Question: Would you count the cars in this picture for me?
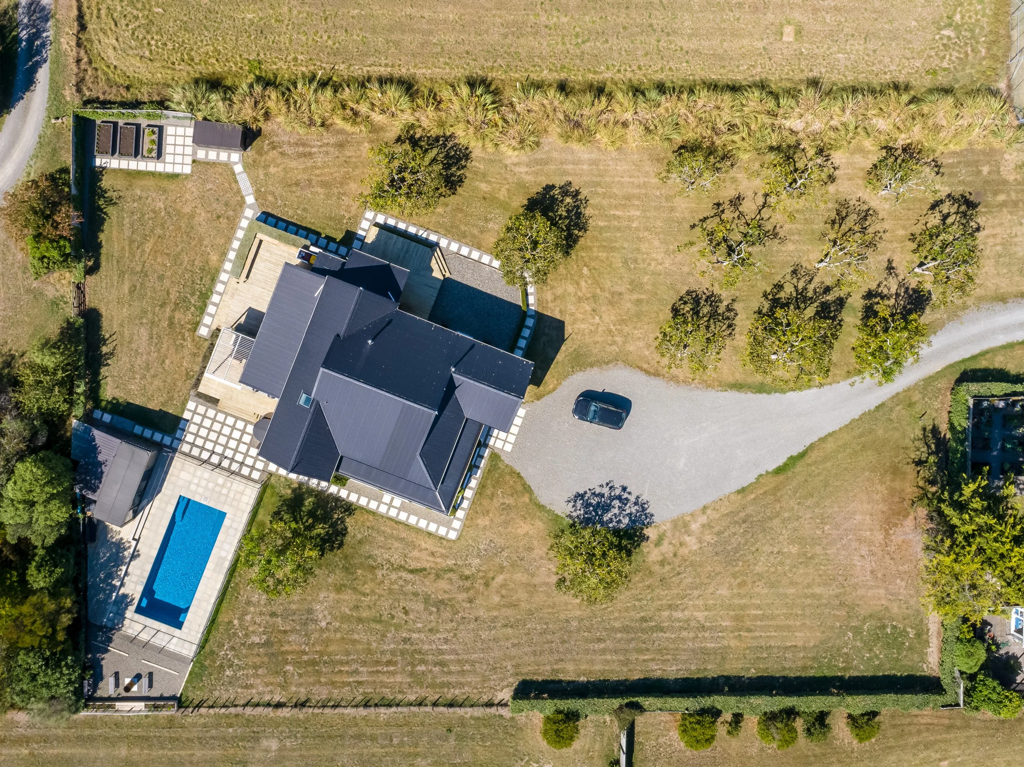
1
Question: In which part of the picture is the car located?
center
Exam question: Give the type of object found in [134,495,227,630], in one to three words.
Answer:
swimming pool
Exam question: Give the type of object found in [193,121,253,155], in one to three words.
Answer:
shed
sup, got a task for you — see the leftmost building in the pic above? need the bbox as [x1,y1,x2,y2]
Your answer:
[72,420,162,529]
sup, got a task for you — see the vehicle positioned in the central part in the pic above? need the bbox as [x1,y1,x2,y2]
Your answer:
[571,396,628,430]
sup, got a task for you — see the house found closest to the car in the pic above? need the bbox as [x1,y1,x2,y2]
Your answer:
[239,248,537,518]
